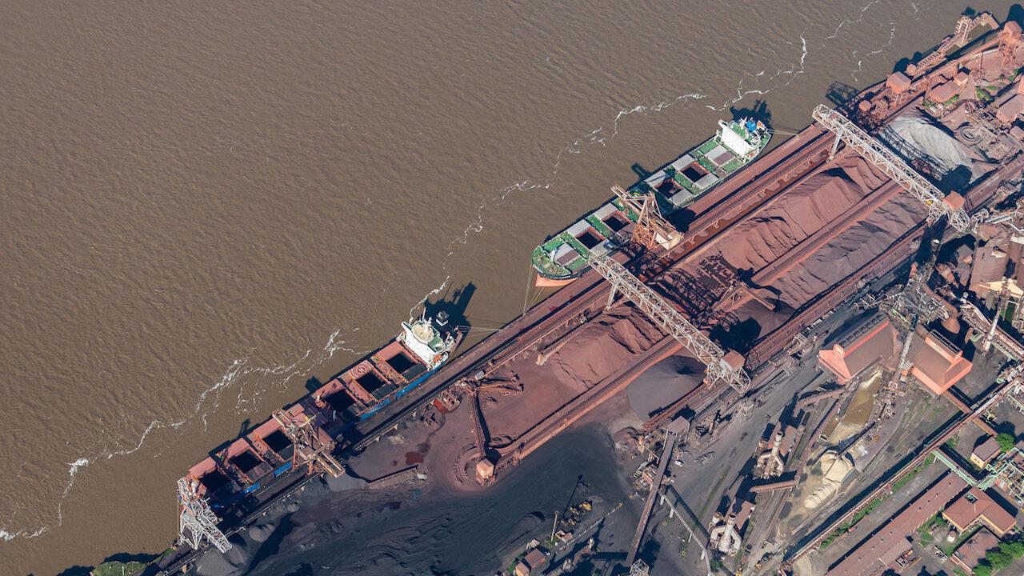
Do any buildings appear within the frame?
Yes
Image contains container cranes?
Yes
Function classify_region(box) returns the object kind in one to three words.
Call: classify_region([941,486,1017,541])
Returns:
building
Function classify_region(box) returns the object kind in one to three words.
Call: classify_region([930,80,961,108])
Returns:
shed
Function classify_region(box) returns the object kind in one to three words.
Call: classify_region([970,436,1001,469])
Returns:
house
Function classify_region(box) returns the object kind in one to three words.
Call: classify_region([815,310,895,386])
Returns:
building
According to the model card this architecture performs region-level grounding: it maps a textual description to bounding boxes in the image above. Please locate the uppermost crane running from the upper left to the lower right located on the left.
[271,407,349,479]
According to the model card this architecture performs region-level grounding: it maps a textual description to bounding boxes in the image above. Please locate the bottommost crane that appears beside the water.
[165,475,232,555]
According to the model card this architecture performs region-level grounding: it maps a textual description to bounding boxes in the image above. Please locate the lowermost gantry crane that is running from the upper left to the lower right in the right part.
[588,247,749,400]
